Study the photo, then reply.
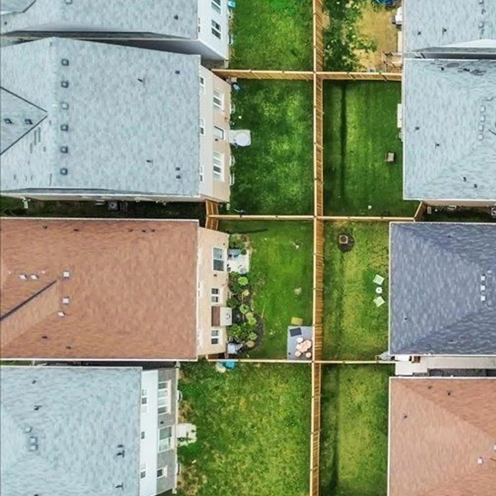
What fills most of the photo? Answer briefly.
buildings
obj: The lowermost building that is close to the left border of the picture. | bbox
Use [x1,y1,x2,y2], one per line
[0,367,179,496]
